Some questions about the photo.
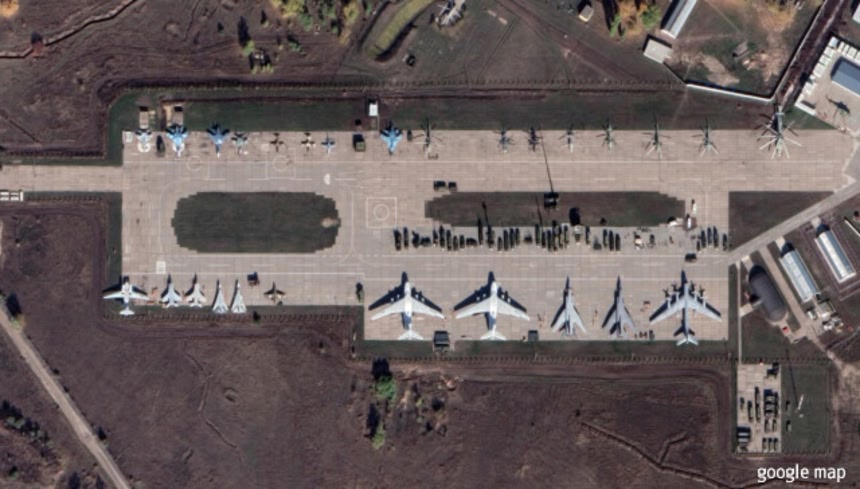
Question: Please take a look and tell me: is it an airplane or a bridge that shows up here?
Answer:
airplane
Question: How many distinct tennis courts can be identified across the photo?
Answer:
0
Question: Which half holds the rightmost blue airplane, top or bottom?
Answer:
top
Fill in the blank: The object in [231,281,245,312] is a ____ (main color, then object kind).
white airplane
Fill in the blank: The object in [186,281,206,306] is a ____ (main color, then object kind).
white airplane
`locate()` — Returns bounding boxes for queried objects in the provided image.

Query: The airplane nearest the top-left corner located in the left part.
[135,129,152,151]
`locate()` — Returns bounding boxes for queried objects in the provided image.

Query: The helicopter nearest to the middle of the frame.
[414,123,441,154]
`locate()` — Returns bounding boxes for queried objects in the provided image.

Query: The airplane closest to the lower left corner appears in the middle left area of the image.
[103,276,149,311]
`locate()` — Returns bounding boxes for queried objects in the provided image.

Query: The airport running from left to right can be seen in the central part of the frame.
[0,130,854,341]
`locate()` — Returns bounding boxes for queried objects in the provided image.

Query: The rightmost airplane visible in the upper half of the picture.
[380,126,402,154]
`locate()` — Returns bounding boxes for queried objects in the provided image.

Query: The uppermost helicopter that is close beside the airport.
[826,100,852,122]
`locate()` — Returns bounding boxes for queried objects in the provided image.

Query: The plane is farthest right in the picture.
[650,281,722,342]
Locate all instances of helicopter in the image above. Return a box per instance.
[560,124,583,150]
[414,123,441,154]
[598,122,622,149]
[695,121,723,151]
[642,124,672,152]
[826,100,852,122]
[493,126,517,150]
[758,109,802,155]
[523,127,545,148]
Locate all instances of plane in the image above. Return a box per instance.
[231,281,245,312]
[322,135,336,153]
[103,276,149,311]
[602,283,636,339]
[207,126,229,157]
[372,279,445,340]
[301,134,316,151]
[212,281,228,311]
[380,126,402,154]
[186,281,206,306]
[270,135,285,151]
[457,278,530,339]
[166,125,189,154]
[265,282,286,302]
[553,283,587,339]
[650,281,722,342]
[233,131,249,153]
[135,129,152,151]
[162,282,181,306]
